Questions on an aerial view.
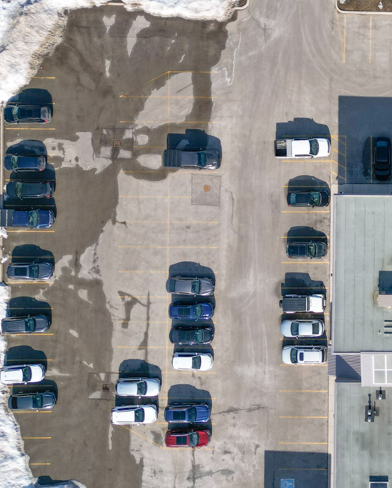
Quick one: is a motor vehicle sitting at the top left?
Yes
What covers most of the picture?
paved ground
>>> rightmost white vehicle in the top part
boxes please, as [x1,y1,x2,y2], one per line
[273,136,331,160]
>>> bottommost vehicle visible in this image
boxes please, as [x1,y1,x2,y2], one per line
[164,427,211,451]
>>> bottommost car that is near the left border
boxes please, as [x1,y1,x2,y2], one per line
[6,390,58,413]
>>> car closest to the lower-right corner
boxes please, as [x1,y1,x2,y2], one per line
[282,344,326,367]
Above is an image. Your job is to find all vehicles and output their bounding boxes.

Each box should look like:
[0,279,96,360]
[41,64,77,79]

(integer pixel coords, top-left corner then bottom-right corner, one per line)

[280,295,325,314]
[3,103,51,125]
[0,313,53,336]
[162,148,222,171]
[3,151,46,173]
[287,188,330,210]
[286,239,328,261]
[164,427,211,451]
[163,402,211,426]
[281,318,325,340]
[165,276,214,298]
[167,300,214,322]
[273,136,331,160]
[168,325,214,347]
[114,377,161,400]
[6,390,58,413]
[110,403,159,426]
[0,362,46,385]
[0,207,56,230]
[171,352,213,373]
[5,260,55,282]
[371,137,392,179]
[282,344,326,367]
